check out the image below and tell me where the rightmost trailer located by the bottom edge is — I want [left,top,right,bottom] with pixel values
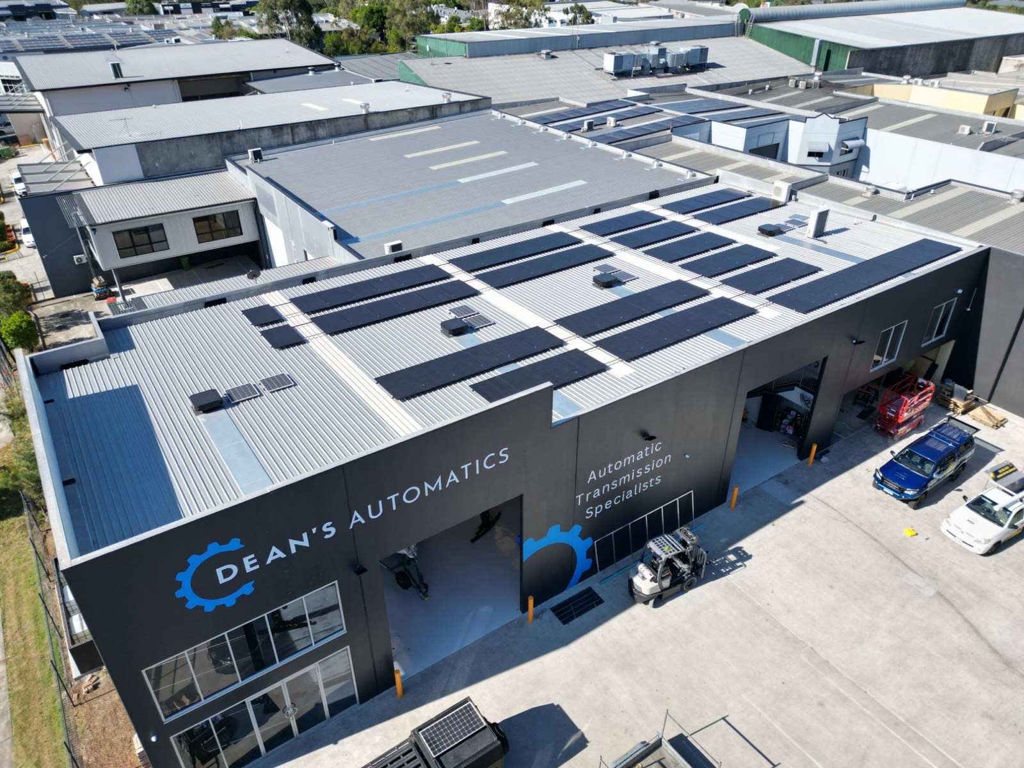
[603,712,718,768]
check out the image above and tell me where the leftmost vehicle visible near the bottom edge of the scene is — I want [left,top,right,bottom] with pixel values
[362,698,513,768]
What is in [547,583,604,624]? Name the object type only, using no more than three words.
solar panel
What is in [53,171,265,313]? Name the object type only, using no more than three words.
building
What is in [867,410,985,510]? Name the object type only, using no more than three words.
truck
